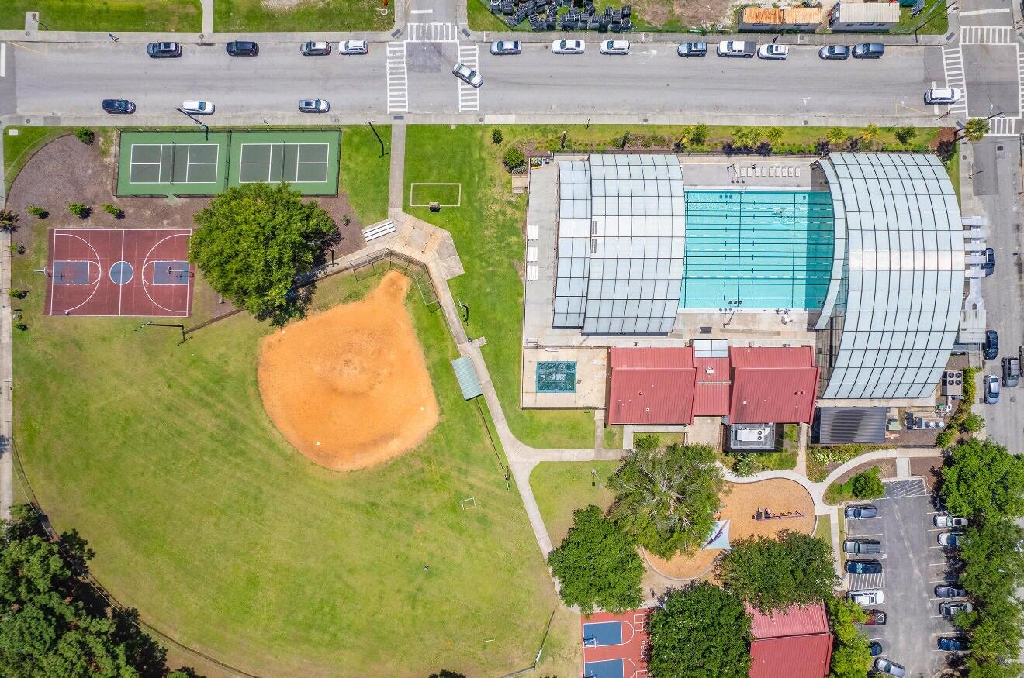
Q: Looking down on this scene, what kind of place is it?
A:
sports ground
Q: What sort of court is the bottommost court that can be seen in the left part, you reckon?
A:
basketball court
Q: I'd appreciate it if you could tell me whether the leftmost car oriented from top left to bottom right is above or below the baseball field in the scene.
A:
above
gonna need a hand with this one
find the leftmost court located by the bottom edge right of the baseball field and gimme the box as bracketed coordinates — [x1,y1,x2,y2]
[581,608,666,678]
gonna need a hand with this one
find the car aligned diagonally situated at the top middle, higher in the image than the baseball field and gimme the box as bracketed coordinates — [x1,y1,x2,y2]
[452,63,484,88]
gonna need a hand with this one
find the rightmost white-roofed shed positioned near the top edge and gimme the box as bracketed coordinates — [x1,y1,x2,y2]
[831,3,900,31]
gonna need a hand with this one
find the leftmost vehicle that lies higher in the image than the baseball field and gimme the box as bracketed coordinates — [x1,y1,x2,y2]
[102,98,138,114]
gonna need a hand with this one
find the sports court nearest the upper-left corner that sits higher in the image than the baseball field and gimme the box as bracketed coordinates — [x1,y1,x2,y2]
[117,130,228,206]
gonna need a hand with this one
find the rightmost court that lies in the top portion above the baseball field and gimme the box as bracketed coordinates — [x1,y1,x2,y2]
[228,130,340,195]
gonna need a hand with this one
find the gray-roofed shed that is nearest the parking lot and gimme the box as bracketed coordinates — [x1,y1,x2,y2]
[812,406,887,443]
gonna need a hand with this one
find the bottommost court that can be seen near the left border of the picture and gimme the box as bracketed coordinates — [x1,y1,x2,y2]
[45,228,192,317]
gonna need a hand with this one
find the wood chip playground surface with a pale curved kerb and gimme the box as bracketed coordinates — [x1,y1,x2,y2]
[640,478,818,579]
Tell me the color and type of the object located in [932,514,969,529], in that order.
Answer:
white vehicle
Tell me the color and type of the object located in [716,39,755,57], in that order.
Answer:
white vehicle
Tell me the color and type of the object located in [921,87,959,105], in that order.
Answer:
white car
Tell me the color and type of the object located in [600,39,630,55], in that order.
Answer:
white car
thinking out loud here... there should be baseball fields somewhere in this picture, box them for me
[13,267,555,678]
